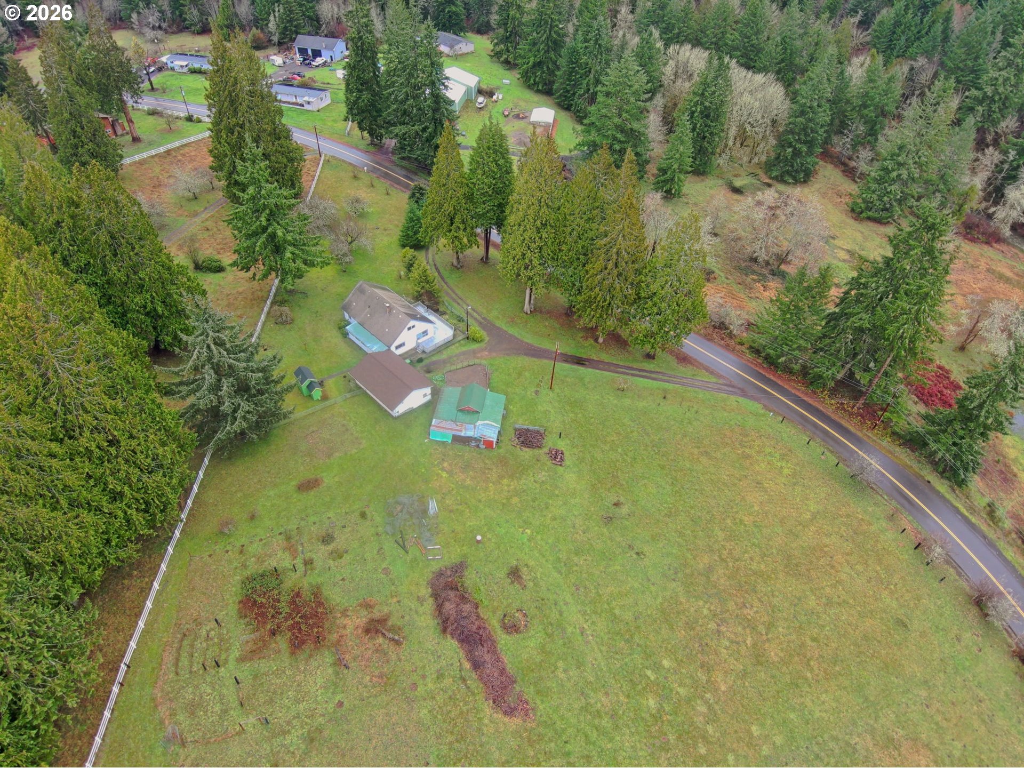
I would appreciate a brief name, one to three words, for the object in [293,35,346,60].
building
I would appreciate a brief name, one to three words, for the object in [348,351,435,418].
building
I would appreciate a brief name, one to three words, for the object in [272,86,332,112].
house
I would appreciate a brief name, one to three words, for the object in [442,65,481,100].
barn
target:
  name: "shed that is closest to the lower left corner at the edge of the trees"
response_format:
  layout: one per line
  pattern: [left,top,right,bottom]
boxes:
[293,367,322,404]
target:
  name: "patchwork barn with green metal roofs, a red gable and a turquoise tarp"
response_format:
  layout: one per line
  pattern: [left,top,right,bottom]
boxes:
[427,375,511,452]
